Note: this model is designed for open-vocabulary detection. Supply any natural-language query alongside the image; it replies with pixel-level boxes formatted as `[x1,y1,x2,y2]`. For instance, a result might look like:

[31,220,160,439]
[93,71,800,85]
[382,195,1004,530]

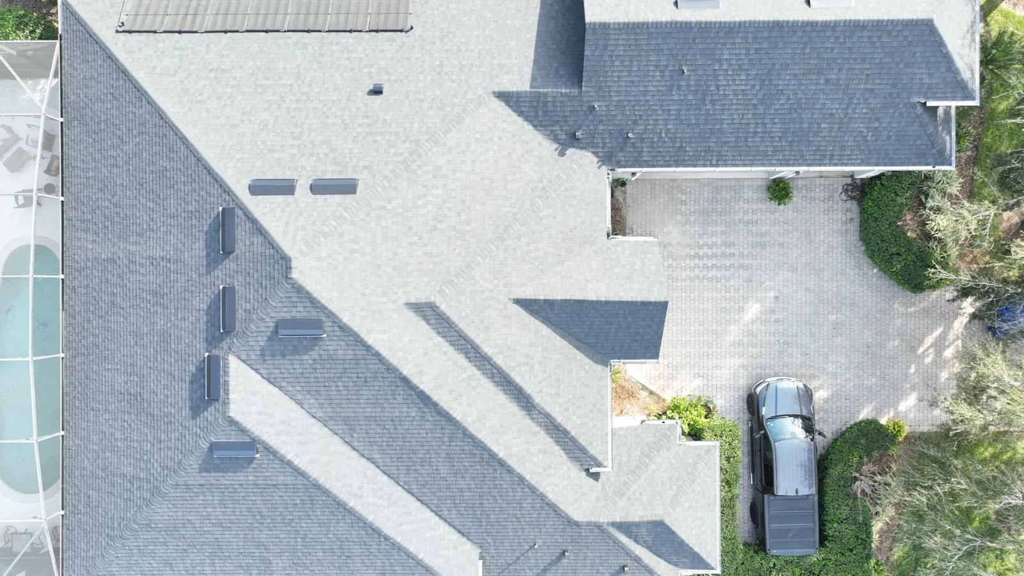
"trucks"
[743,374,827,554]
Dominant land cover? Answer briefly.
buildings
